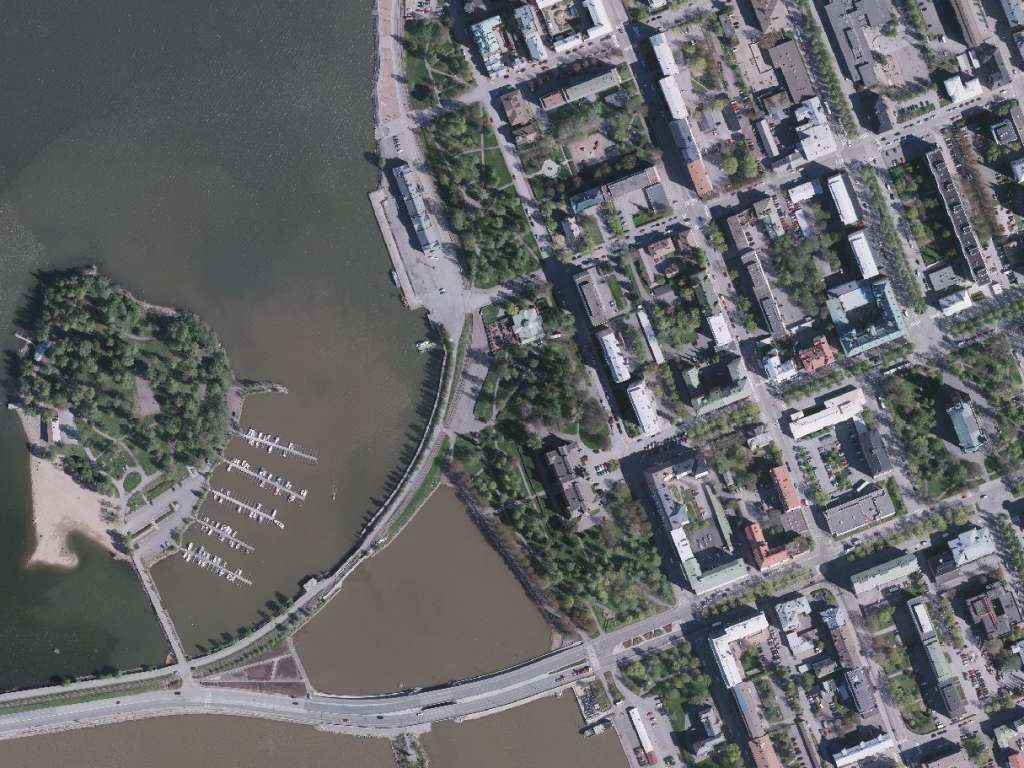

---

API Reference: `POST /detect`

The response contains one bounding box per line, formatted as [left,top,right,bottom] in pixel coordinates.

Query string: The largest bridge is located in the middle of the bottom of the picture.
[421,644,591,725]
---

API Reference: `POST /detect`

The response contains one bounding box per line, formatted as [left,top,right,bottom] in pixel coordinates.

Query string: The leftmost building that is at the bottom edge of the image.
[630,708,658,765]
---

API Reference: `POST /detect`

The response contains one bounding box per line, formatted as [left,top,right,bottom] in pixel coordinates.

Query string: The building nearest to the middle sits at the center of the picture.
[513,308,544,344]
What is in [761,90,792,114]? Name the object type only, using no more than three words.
shed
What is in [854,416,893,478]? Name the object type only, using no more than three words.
building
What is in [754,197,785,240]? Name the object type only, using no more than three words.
house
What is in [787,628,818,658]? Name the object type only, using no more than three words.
house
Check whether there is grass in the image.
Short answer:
Yes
